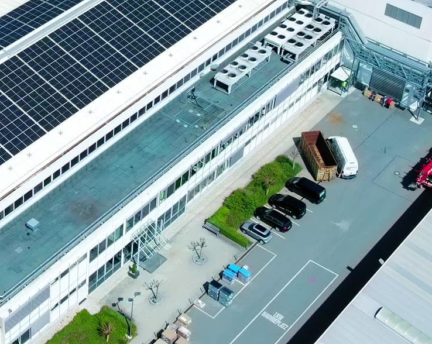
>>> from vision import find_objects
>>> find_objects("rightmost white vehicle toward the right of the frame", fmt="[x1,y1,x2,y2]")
[327,137,357,176]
